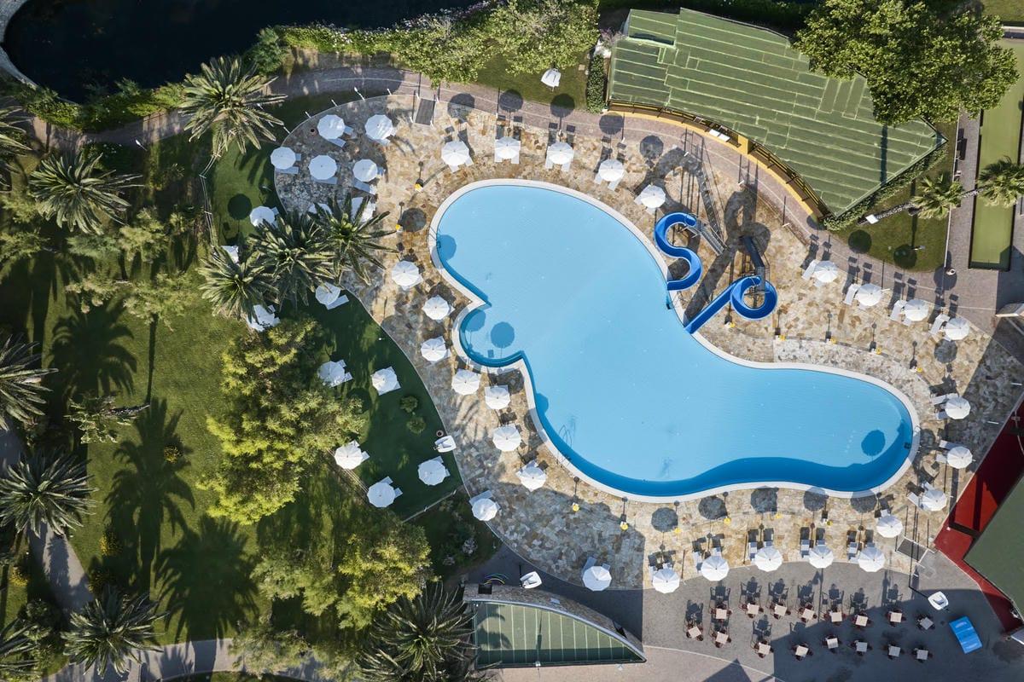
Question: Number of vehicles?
zero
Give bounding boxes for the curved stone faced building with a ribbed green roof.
[472,582,648,672]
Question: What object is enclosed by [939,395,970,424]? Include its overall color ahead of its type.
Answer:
white umbrella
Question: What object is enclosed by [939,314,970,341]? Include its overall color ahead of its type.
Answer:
white umbrella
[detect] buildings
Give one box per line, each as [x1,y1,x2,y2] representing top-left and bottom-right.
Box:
[985,291,1024,319]
[941,472,1024,618]
[472,582,648,672]
[603,5,951,222]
